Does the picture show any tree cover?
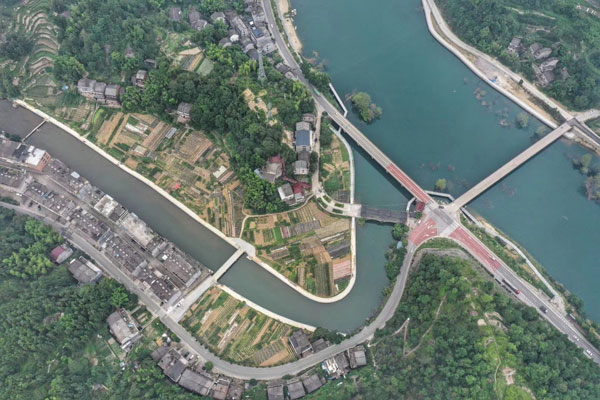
Yes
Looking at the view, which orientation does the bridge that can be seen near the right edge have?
diagonally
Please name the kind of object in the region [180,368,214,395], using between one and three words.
house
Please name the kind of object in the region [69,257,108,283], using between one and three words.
house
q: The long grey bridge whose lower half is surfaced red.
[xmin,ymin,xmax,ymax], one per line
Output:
[326,106,429,205]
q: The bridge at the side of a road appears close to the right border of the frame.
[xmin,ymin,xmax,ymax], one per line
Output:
[455,119,574,210]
